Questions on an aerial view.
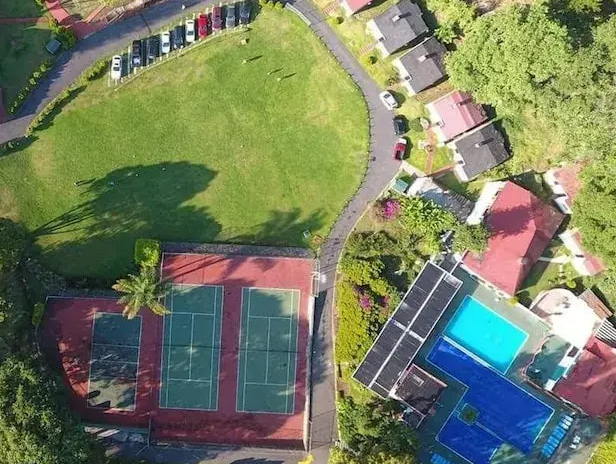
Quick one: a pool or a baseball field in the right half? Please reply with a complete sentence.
Looking in the right half, you will find a pool.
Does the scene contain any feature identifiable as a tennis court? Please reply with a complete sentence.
Yes, there's a tennis court here.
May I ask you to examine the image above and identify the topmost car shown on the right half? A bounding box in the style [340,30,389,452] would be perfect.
[377,88,398,112]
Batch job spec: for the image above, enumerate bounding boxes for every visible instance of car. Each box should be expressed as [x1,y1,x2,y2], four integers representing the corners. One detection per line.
[377,88,398,112]
[111,55,122,80]
[146,37,158,63]
[212,6,223,31]
[160,32,171,54]
[131,41,142,65]
[198,15,208,39]
[173,24,185,51]
[225,5,236,30]
[238,1,251,26]
[393,115,405,137]
[185,19,195,43]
